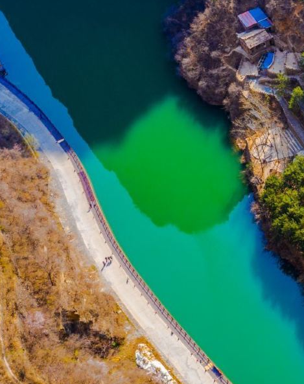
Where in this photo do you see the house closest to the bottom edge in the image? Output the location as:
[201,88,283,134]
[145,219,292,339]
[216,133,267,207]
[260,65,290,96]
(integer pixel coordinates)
[236,29,274,52]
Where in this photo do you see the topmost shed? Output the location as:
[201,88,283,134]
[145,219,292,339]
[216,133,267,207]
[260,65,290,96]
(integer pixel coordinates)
[237,7,274,31]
